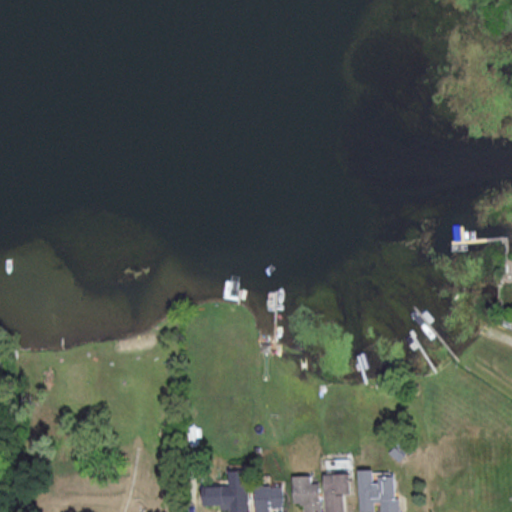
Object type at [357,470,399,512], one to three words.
house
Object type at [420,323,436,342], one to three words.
boat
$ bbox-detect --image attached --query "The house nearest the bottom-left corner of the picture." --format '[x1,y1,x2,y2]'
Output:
[201,472,247,512]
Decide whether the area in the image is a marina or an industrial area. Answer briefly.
marina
